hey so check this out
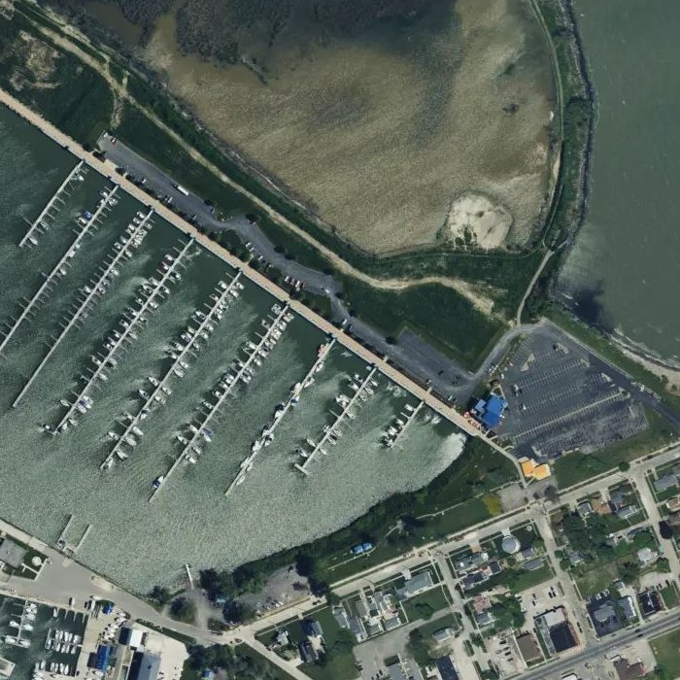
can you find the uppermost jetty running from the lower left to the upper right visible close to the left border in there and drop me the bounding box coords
[19,159,85,246]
